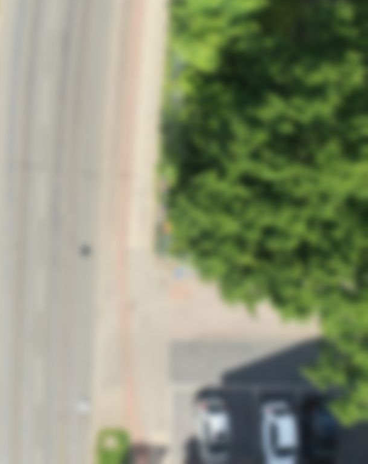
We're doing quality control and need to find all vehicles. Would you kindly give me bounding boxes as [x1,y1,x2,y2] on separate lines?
[191,392,230,464]
[256,393,300,464]
[308,397,351,464]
